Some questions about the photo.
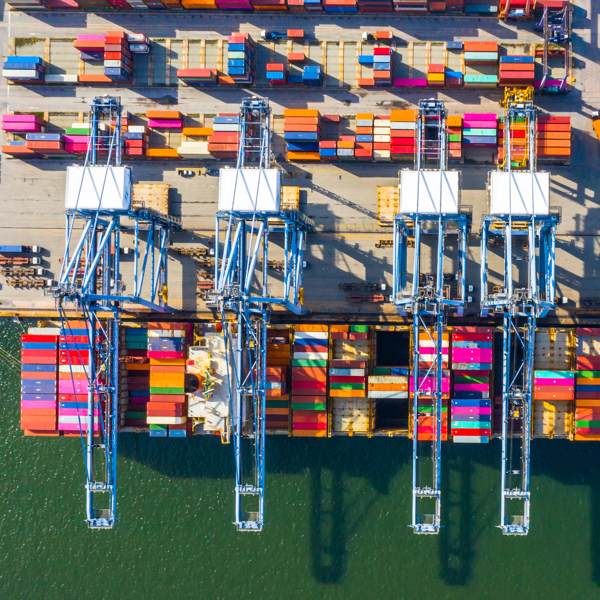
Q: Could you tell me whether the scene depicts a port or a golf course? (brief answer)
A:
port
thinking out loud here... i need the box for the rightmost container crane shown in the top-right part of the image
[533,6,570,97]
